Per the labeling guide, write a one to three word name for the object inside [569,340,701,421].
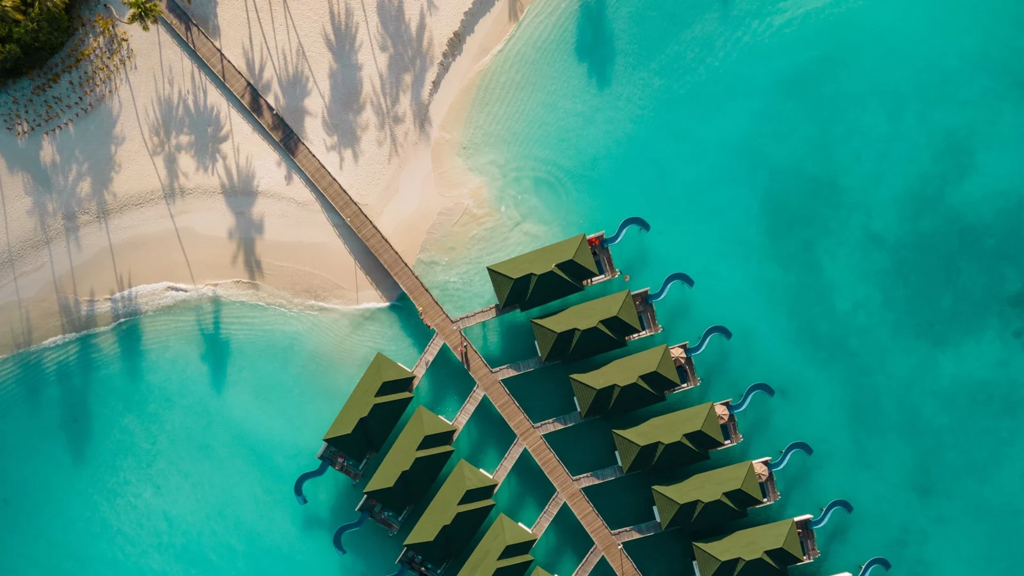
house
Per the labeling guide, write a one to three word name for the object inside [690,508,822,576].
house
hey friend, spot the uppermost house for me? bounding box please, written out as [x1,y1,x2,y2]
[487,230,621,312]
